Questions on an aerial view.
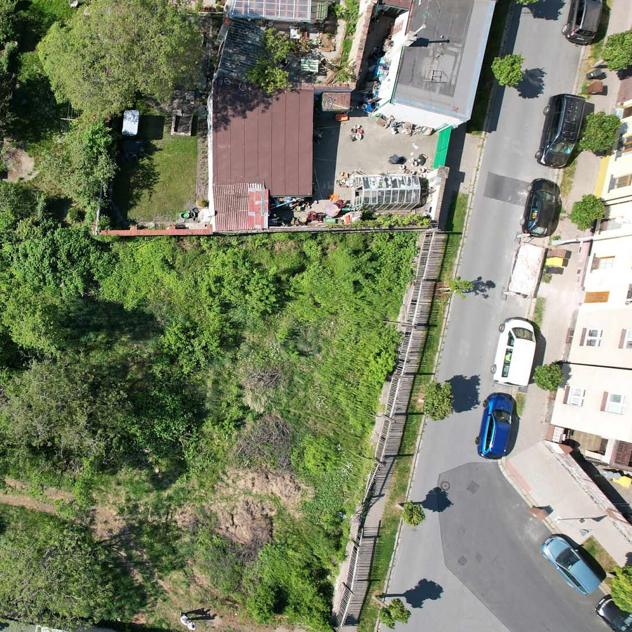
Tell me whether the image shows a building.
Yes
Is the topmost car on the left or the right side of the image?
right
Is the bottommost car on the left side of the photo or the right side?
right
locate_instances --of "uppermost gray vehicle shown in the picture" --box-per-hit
[557,0,605,48]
